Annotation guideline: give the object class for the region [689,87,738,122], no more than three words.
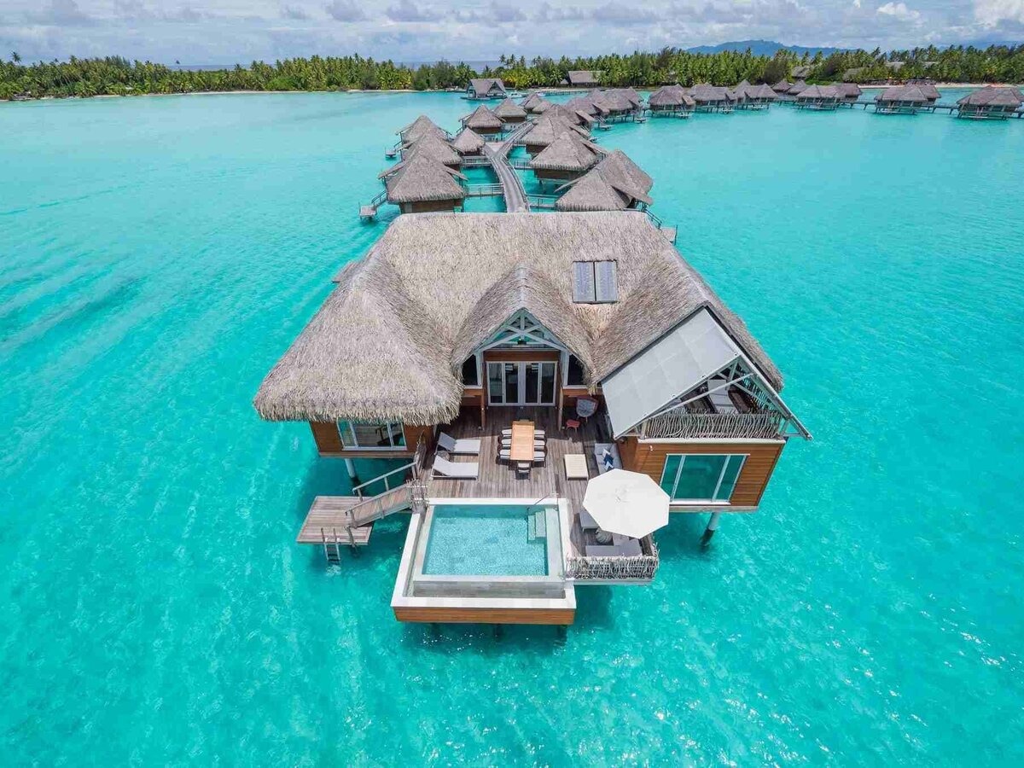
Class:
house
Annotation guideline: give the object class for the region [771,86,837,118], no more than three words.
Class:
house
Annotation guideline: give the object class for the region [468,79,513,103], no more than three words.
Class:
building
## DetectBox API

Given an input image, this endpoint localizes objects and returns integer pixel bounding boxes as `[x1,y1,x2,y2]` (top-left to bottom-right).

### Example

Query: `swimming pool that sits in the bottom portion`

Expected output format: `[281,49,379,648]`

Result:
[391,489,578,623]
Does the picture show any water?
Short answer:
Yes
